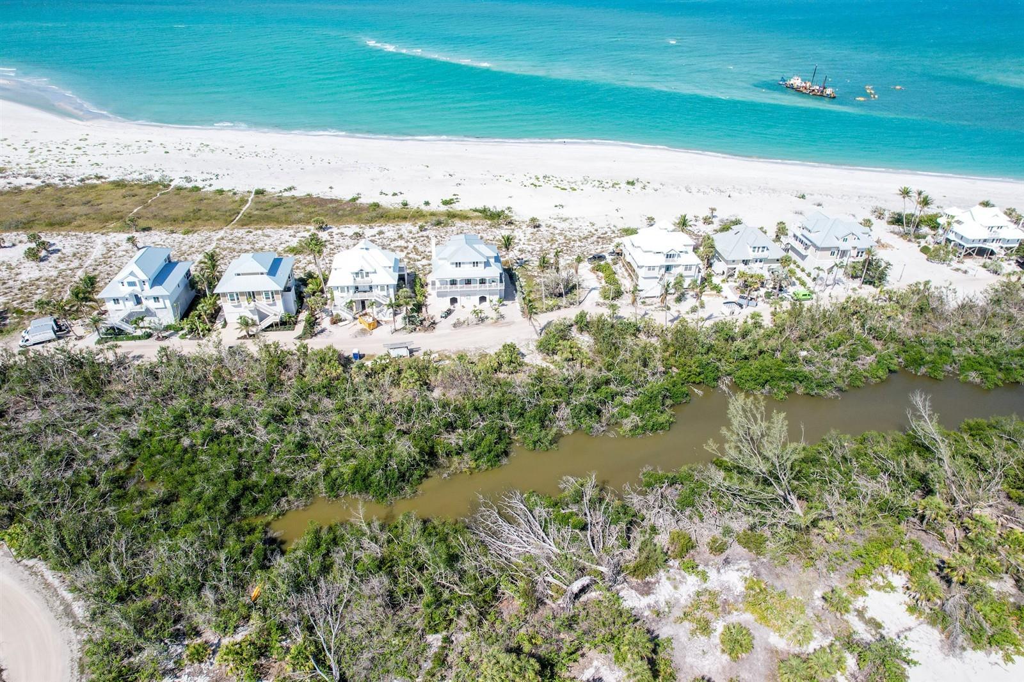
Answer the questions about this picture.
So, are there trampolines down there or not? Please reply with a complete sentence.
No, I can't see a single trampoline in this photo.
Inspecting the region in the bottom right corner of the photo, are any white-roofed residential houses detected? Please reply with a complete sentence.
No, the scene shows no white-roofed residential house in the bottom right corner of the photo.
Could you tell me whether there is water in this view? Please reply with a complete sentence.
Yes, the picture does contain water.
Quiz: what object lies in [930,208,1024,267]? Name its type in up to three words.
house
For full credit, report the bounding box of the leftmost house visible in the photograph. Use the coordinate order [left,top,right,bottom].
[97,240,196,340]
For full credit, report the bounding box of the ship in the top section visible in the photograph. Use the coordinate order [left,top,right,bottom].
[775,61,841,99]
